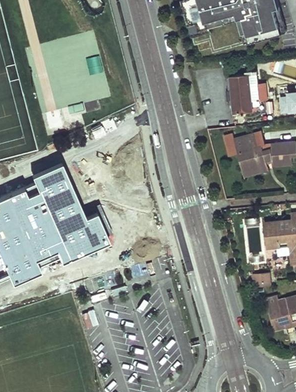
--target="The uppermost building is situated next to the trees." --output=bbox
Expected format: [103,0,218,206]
[183,0,279,52]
